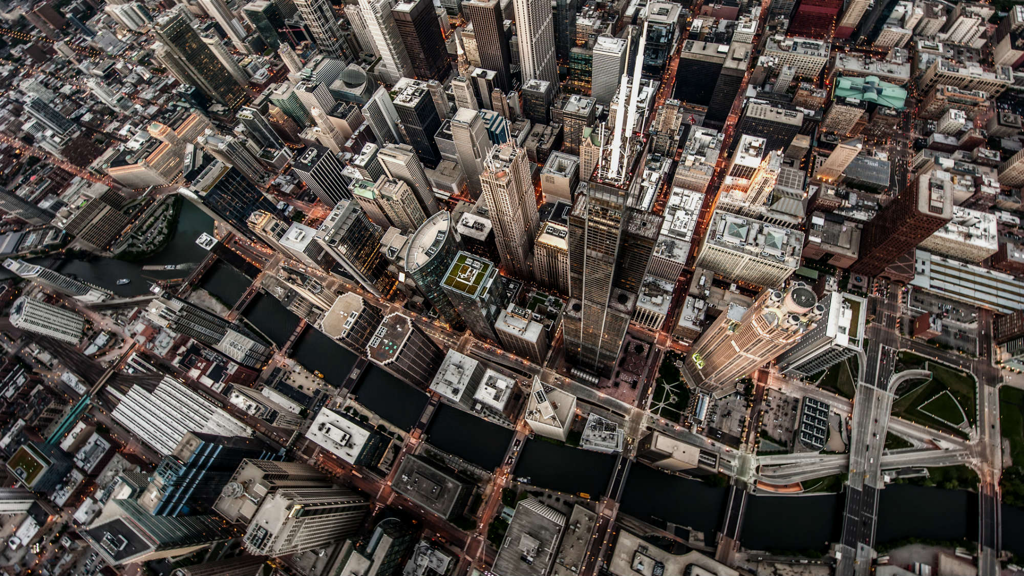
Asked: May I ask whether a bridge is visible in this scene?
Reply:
Yes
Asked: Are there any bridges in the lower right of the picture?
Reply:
Yes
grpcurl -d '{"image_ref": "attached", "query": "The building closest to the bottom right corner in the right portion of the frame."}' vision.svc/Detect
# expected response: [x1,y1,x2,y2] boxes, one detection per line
[931,542,980,576]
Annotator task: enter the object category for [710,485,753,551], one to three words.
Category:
bridge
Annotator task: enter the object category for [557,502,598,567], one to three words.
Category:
building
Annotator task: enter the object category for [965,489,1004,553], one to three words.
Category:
bridge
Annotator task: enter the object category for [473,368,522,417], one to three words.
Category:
building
